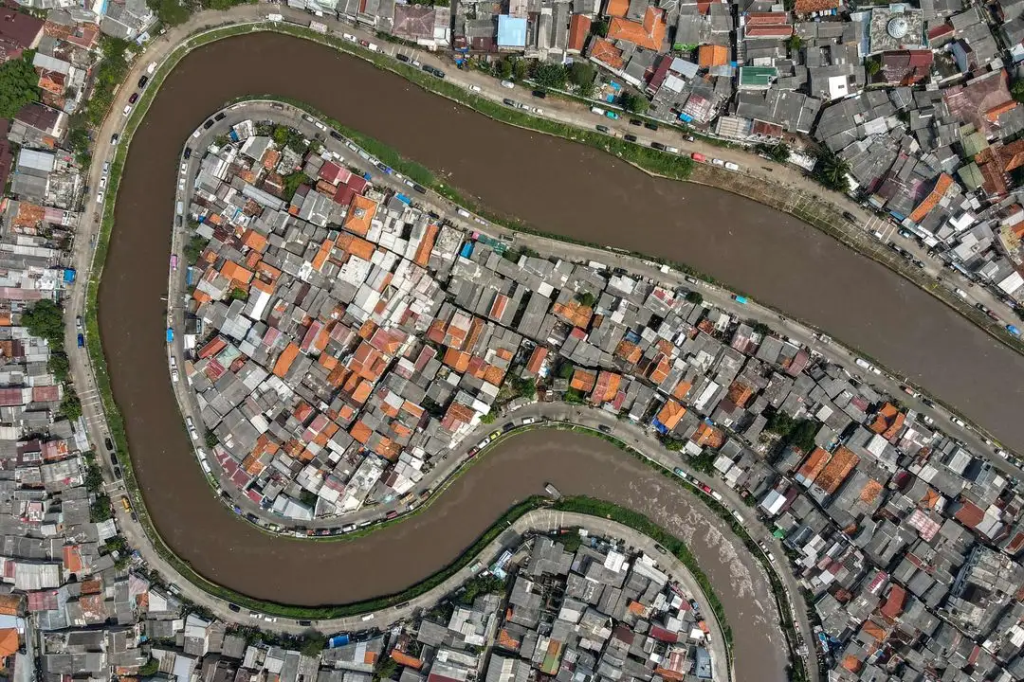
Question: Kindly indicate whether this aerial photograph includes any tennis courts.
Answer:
No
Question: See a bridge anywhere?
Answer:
No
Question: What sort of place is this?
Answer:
residential area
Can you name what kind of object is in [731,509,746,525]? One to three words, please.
vehicle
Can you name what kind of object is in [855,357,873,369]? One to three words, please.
vehicle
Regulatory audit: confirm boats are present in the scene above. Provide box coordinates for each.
[544,483,560,501]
